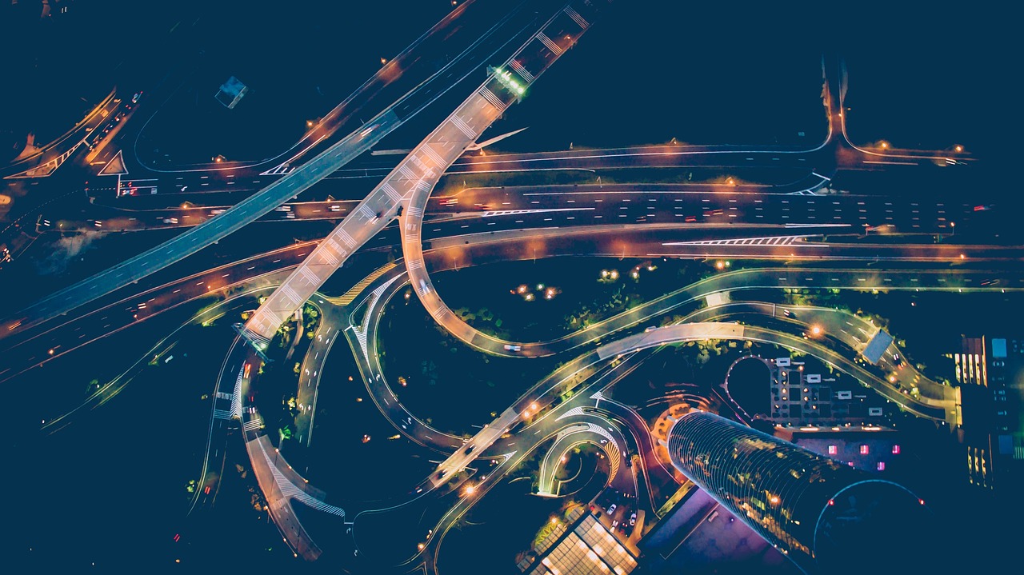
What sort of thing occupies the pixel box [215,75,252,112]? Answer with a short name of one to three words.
house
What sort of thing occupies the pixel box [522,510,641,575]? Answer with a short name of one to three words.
building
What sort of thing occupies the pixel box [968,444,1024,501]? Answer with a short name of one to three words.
building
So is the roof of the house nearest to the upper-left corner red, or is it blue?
blue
